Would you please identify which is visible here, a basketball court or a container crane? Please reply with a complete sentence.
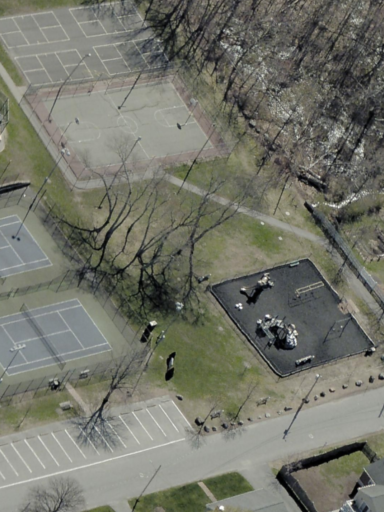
Looking from above, you can make out a basketball court.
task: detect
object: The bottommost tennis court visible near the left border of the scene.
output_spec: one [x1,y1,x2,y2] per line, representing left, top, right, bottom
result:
[0,273,149,394]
